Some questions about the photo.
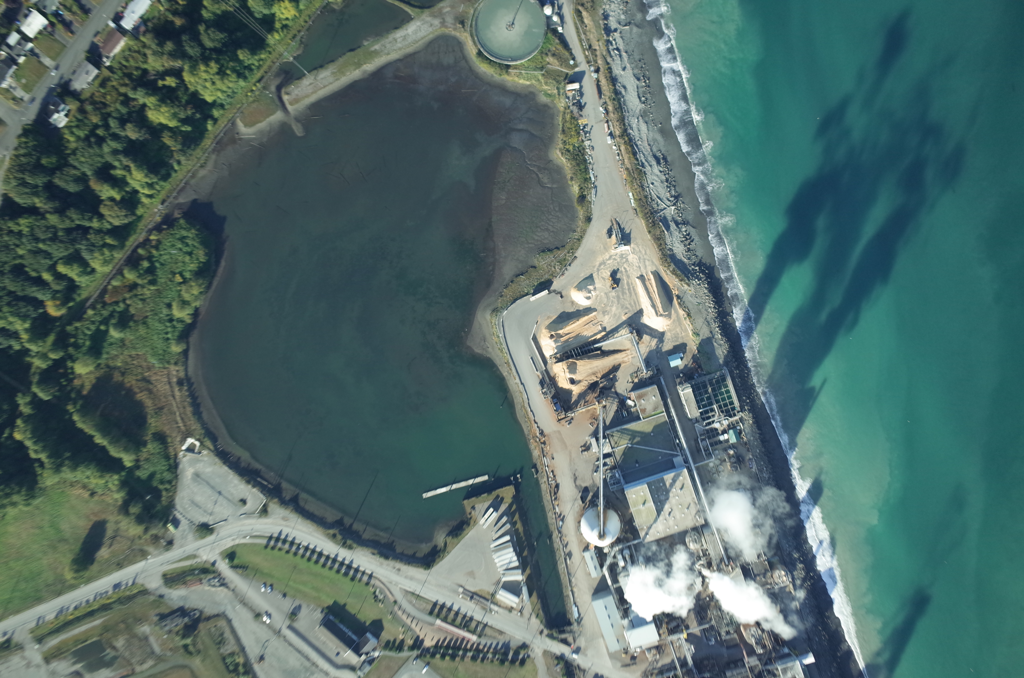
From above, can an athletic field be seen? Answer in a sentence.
No, no athletic field is visible in the view.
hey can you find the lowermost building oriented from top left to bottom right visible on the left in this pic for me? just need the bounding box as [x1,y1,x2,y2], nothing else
[323,614,362,654]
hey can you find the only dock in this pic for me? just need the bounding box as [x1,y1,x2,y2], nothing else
[423,474,488,499]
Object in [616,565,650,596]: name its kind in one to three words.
building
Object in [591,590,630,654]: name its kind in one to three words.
building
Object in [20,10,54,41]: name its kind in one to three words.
house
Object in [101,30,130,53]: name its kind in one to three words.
house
